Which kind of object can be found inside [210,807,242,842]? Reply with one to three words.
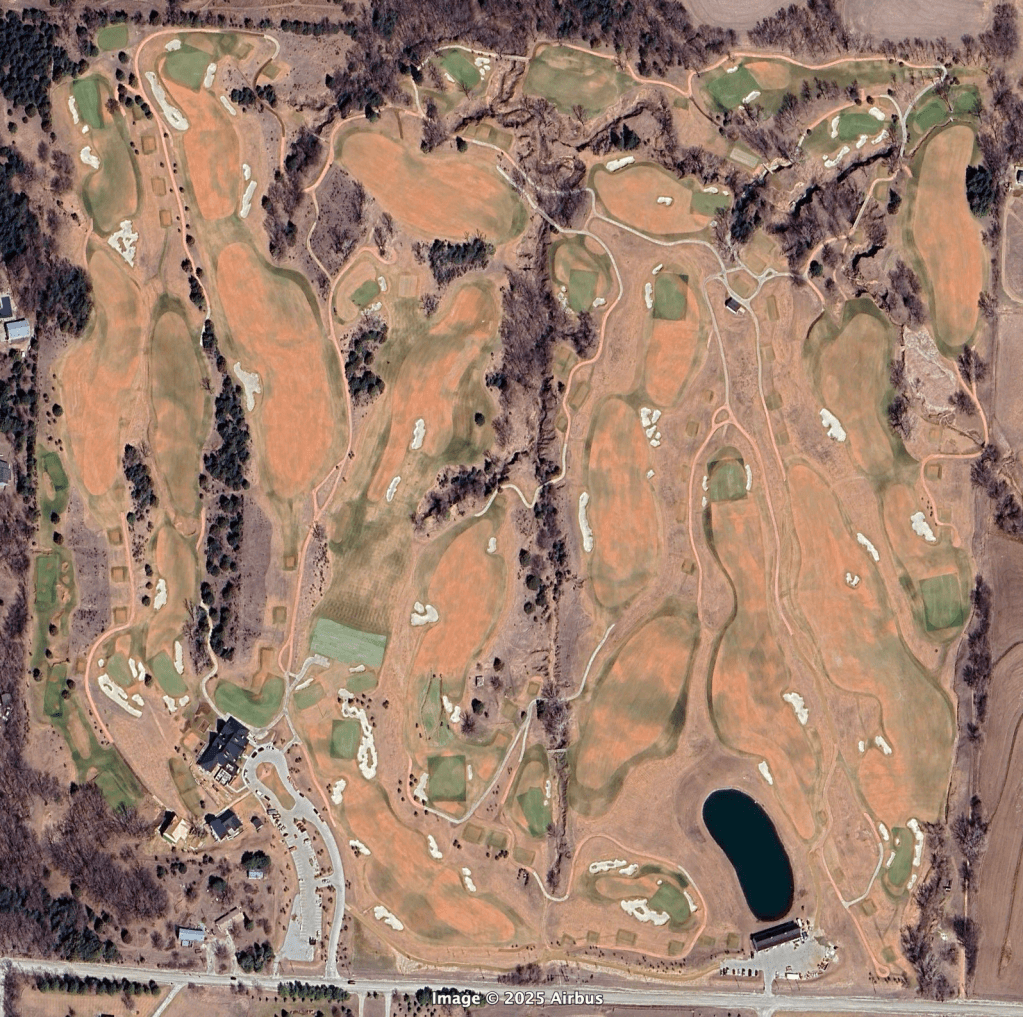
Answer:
house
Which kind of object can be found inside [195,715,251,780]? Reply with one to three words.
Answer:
building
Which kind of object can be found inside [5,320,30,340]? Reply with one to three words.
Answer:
shed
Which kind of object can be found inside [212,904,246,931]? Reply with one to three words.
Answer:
house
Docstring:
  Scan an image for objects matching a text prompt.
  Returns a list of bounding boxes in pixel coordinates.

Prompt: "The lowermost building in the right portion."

[752,922,803,952]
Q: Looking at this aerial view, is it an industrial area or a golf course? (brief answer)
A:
golf course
